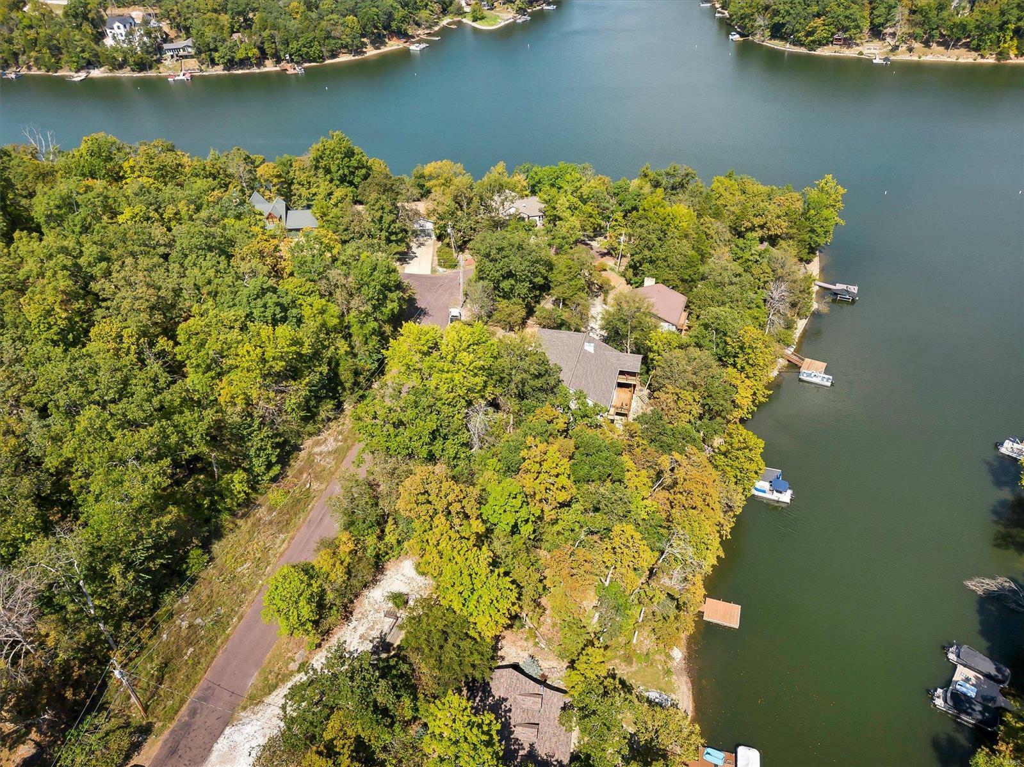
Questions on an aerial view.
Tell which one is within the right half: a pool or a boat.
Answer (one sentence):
Looking within the right half, you will find a boat.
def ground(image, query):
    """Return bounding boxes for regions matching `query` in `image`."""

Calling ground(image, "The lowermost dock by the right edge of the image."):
[951,665,1014,708]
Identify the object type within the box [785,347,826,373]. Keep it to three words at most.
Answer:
pier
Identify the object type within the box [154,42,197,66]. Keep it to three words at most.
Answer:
house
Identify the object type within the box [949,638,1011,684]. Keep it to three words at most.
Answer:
boat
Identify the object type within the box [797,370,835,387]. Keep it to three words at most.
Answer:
boat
